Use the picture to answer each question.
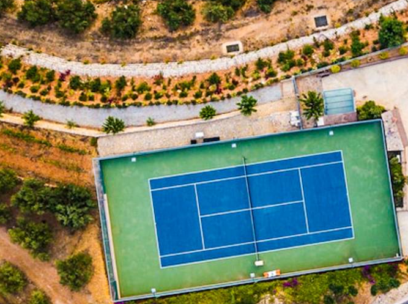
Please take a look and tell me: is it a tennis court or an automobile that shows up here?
tennis court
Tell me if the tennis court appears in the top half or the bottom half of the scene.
bottom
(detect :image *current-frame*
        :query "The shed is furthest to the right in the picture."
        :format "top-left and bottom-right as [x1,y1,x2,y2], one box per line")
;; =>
[382,107,408,151]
